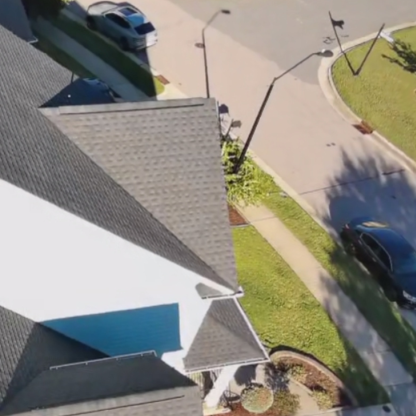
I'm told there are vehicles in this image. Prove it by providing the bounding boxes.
[81,5,156,50]
[346,215,416,304]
